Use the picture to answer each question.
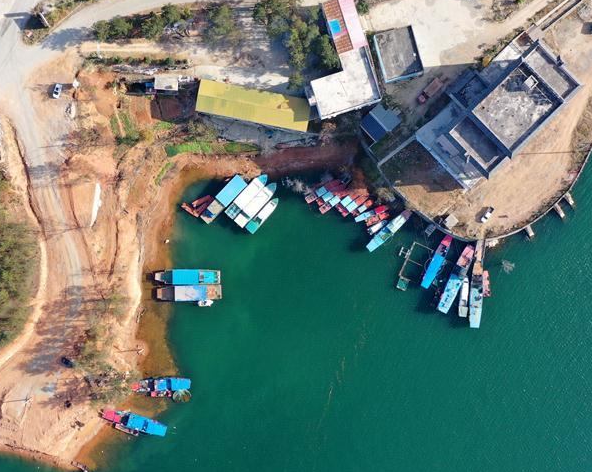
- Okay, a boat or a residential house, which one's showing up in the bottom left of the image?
boat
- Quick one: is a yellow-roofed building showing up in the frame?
Yes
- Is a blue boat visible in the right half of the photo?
Yes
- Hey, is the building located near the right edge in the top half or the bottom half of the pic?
top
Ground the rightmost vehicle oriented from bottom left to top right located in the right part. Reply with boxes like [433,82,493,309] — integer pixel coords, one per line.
[480,206,495,224]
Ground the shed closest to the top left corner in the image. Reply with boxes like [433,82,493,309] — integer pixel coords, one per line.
[154,76,180,93]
